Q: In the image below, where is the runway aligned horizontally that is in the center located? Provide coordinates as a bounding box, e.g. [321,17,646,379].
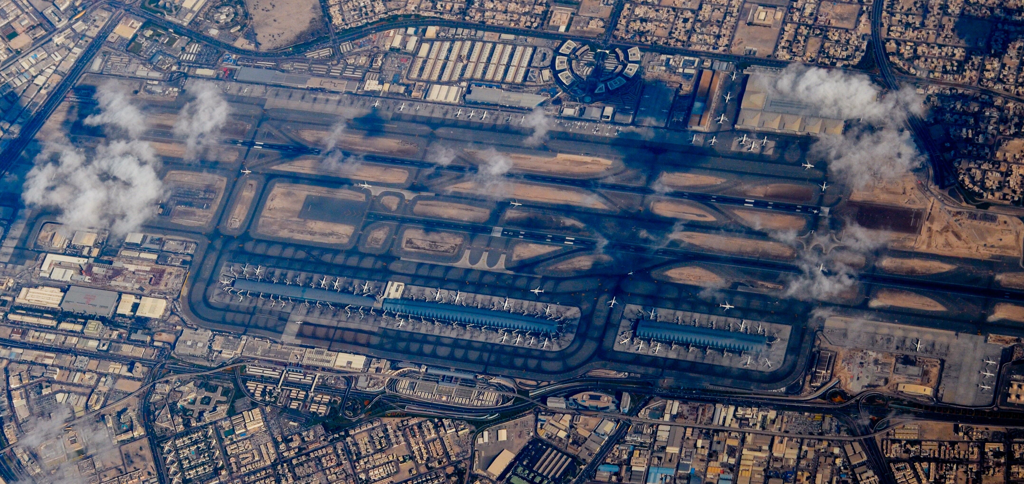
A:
[130,124,1024,301]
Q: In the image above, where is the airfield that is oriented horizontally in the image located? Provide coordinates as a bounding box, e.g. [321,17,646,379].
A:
[0,77,1024,408]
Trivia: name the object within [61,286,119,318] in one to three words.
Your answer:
hangar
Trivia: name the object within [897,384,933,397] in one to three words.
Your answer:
building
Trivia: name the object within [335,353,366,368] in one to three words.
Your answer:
building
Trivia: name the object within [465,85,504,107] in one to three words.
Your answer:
hangar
